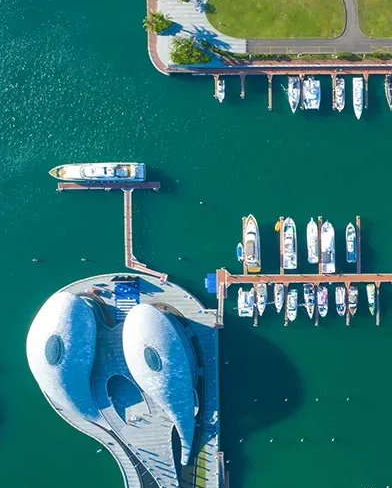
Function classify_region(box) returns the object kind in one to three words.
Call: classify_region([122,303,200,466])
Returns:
building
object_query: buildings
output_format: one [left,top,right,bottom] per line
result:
[25,291,113,431]
[122,303,200,466]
